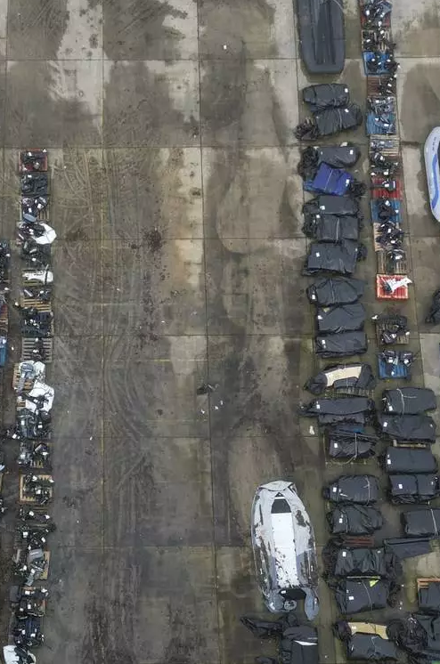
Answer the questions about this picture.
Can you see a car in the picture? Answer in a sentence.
No, the picture doesn't show any car.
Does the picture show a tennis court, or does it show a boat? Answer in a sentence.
There is a boat in the scene.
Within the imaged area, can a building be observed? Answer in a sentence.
No, this view has no building in it.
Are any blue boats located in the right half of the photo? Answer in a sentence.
Yes, there is a blue boat in the right half of the photo.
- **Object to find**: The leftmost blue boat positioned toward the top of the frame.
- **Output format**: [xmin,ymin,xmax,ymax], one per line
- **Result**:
[306,162,370,196]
